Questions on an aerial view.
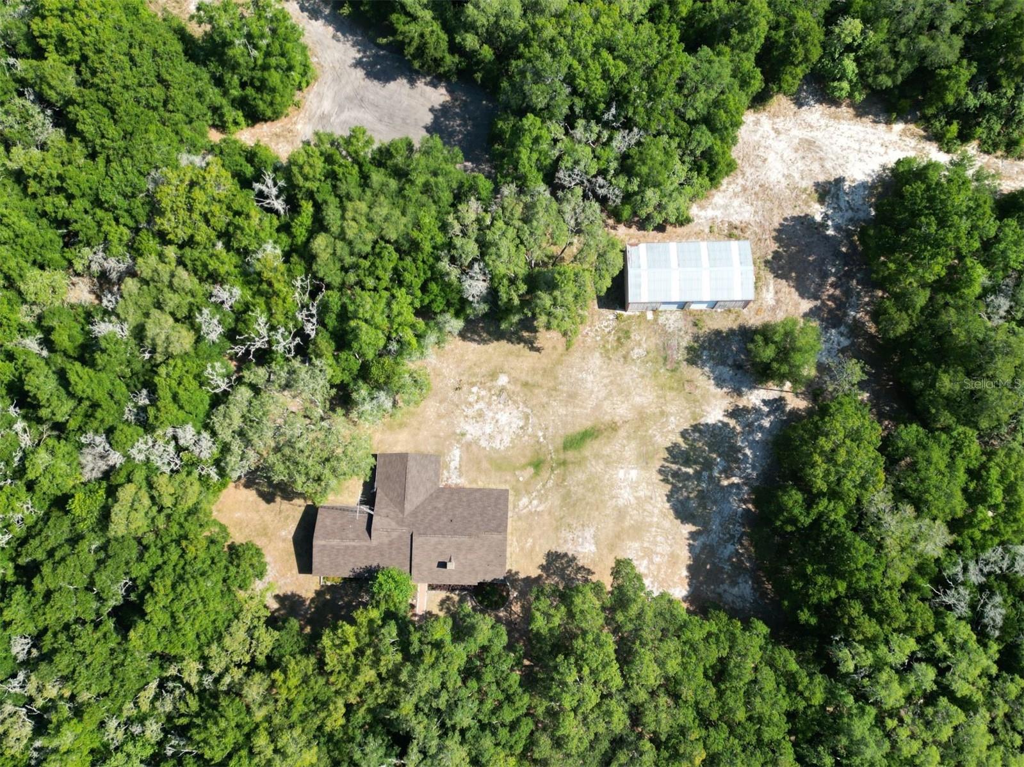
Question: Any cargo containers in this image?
No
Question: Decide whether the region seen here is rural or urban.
rural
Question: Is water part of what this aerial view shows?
No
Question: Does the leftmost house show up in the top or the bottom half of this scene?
bottom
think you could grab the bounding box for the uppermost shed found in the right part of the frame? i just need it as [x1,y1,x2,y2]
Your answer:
[623,241,756,313]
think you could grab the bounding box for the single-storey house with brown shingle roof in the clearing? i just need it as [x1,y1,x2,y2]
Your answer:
[311,453,509,585]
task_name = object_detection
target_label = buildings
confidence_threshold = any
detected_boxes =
[311,453,509,585]
[623,241,756,313]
